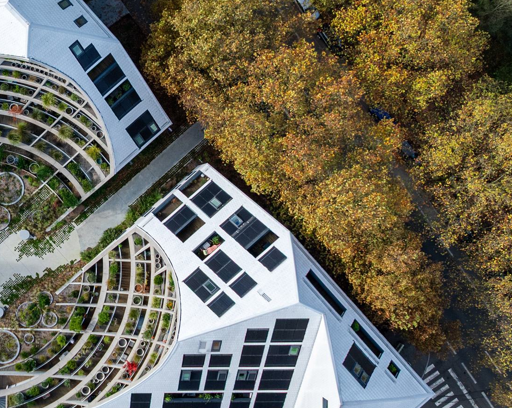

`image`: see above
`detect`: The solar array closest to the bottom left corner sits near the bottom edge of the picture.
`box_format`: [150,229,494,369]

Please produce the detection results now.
[130,394,152,408]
